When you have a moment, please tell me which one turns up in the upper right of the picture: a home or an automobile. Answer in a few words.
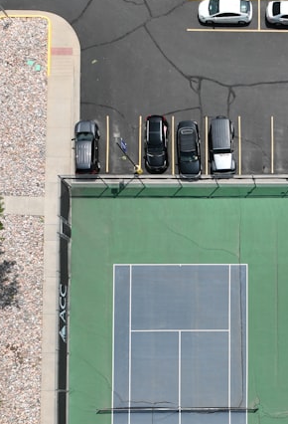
automobile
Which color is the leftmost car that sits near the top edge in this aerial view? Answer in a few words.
white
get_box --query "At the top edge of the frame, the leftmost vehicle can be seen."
[199,0,254,28]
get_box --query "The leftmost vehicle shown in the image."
[71,121,103,179]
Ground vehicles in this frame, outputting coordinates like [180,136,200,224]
[207,116,237,177]
[264,2,288,29]
[71,121,103,179]
[174,123,202,179]
[199,0,254,28]
[140,116,170,175]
